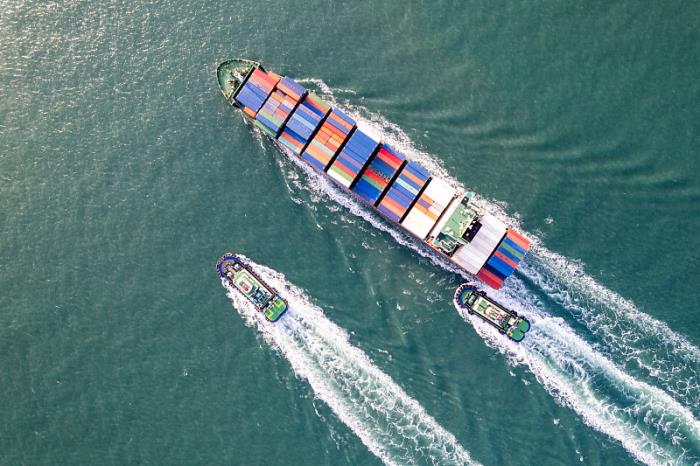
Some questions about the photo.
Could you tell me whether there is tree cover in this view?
No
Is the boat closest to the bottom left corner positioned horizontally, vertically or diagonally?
diagonally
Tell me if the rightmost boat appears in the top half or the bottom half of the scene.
bottom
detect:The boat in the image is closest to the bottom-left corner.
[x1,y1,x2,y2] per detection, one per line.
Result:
[215,255,286,318]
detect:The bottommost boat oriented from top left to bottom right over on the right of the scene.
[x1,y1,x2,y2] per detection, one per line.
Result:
[455,285,530,342]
